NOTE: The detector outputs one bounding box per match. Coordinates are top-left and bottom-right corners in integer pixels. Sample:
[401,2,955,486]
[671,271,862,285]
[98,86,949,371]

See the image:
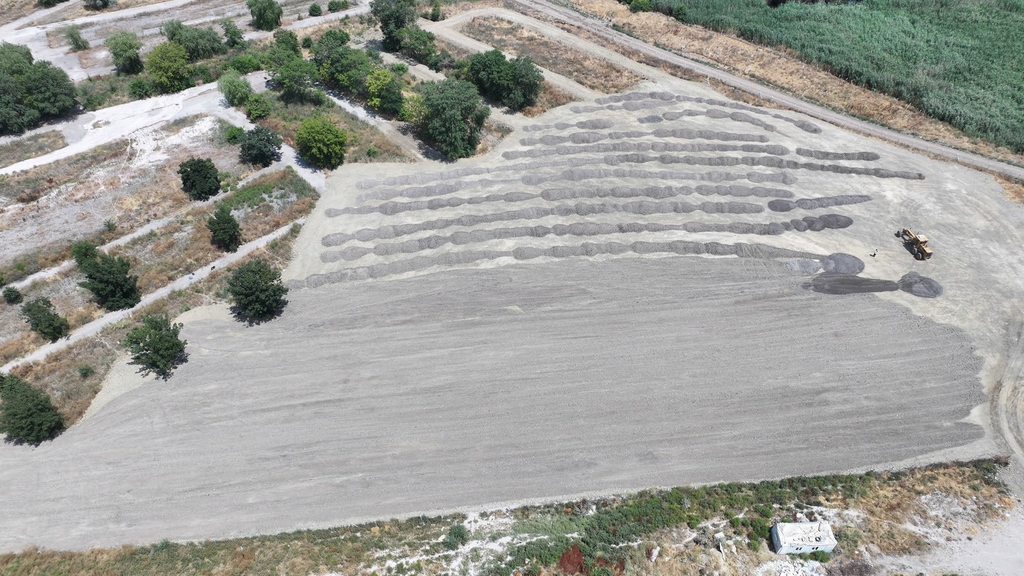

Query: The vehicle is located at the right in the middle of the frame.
[895,228,934,263]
